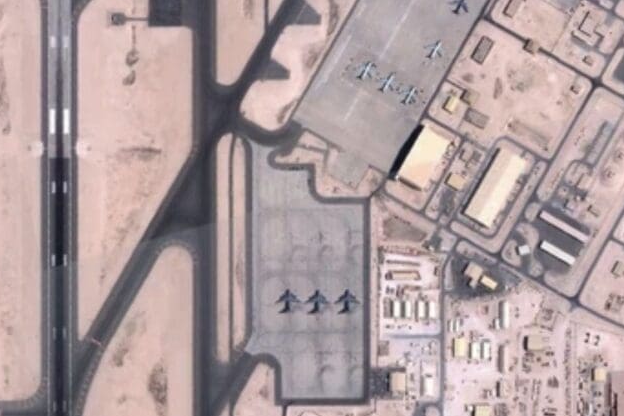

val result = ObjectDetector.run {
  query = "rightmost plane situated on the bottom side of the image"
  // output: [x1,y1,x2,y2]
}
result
[336,289,361,315]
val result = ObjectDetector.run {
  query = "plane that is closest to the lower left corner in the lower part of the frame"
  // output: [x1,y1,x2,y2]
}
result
[277,289,301,315]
